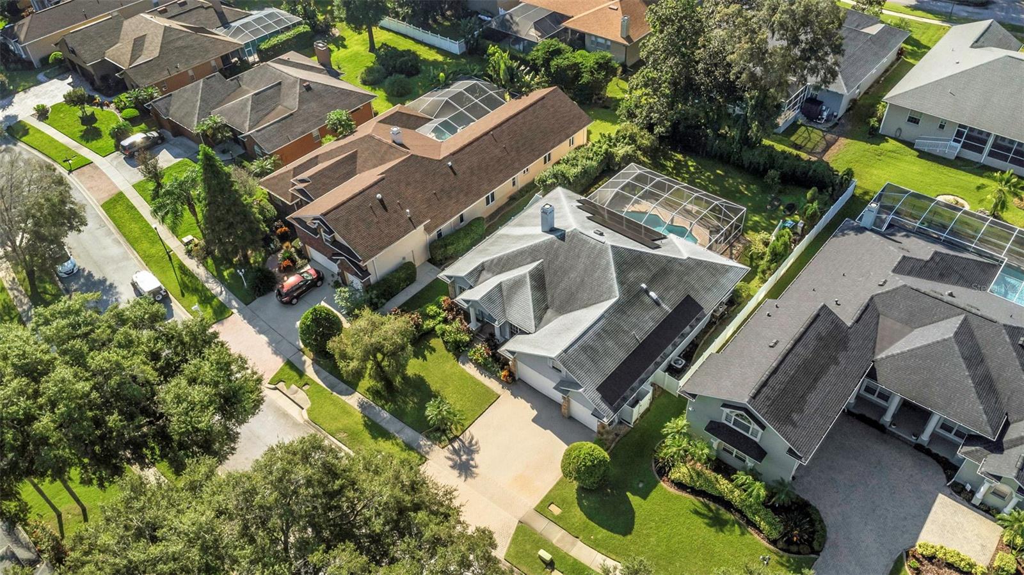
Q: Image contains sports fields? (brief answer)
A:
No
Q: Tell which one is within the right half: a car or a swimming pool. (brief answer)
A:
swimming pool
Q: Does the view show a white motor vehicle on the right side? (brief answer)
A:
No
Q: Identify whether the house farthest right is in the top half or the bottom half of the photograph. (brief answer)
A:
top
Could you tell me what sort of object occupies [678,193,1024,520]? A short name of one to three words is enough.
house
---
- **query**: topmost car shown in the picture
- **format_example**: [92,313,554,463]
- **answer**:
[115,129,165,155]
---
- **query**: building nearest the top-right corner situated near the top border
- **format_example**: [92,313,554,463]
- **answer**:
[882,18,1024,172]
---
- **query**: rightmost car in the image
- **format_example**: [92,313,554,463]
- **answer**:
[270,265,320,297]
